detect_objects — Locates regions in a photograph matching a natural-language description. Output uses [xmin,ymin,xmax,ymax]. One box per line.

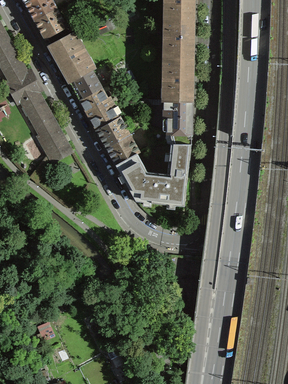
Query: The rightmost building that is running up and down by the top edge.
[162,0,196,102]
